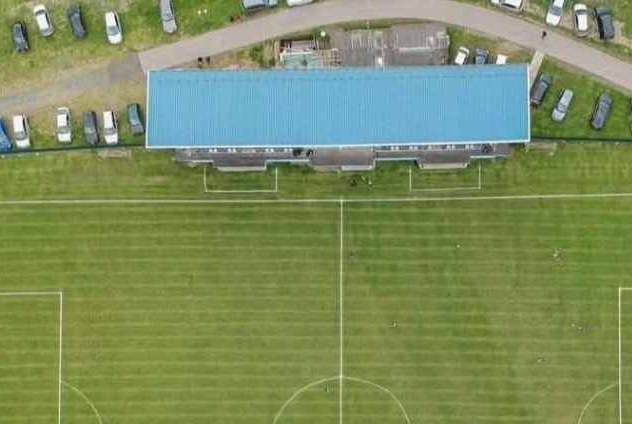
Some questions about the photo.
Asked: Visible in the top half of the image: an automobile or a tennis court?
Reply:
automobile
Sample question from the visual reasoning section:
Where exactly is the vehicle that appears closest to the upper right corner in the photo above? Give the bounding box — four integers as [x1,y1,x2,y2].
[594,5,615,41]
